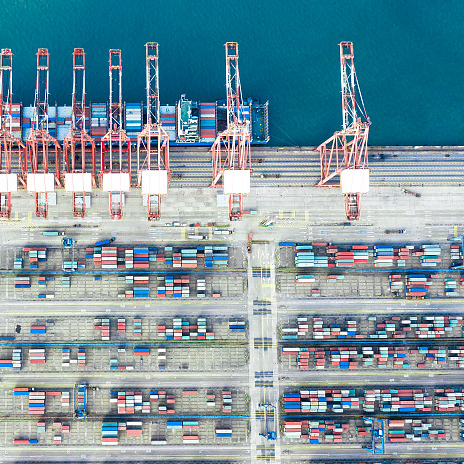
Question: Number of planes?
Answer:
none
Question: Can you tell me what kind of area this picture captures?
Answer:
port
